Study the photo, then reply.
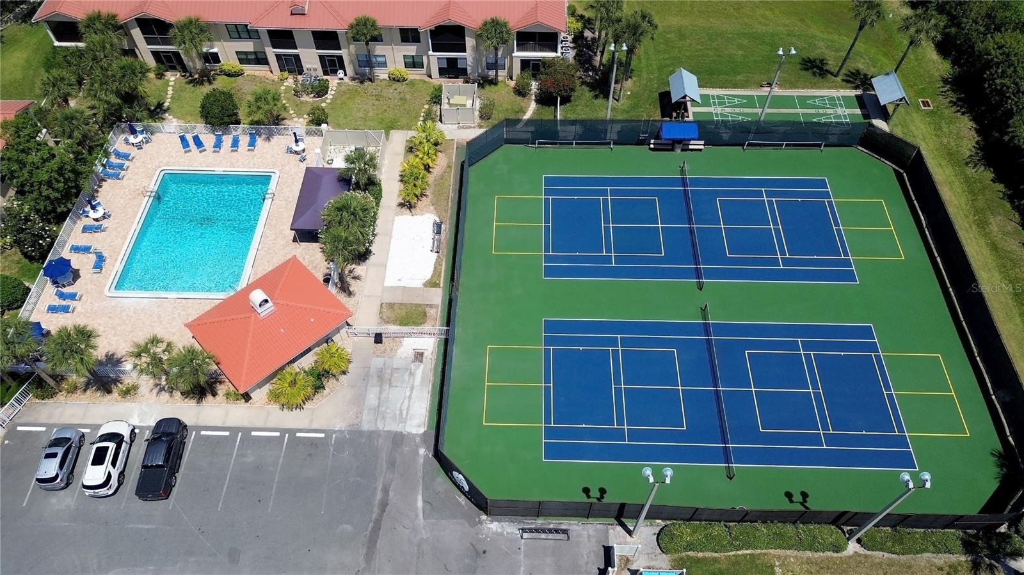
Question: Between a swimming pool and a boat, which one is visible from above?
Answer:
swimming pool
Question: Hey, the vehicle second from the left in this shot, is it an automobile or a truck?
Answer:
automobile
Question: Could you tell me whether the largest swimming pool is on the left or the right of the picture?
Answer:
left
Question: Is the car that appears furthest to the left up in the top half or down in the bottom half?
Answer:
bottom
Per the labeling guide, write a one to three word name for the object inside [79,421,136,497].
car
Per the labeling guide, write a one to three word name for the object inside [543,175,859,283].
tennis court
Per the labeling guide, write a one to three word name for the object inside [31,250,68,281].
umbrella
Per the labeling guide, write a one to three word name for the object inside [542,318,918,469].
tennis court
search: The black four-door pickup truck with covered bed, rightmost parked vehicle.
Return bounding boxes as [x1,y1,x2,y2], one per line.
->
[130,414,188,497]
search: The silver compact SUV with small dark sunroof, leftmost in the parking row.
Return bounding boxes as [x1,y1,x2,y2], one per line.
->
[31,426,85,493]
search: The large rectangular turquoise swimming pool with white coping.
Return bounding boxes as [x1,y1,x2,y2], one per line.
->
[104,168,278,298]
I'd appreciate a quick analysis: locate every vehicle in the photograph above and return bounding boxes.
[31,426,85,493]
[79,421,136,497]
[130,414,188,497]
